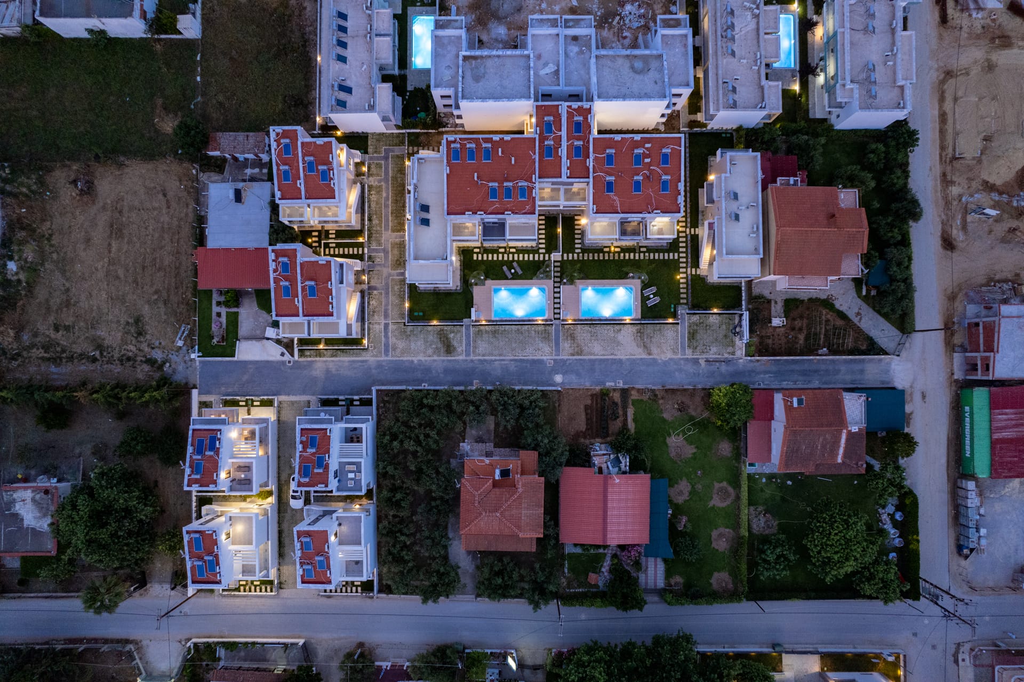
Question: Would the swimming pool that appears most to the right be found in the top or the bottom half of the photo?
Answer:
top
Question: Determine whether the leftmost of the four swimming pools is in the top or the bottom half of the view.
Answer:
top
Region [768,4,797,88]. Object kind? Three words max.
swimming pool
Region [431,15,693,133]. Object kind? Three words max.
building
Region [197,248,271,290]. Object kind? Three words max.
house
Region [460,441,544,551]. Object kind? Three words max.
house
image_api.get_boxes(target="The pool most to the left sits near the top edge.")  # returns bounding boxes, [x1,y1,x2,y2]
[407,6,441,91]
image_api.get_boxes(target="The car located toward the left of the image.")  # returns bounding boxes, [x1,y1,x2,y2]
[286,475,304,509]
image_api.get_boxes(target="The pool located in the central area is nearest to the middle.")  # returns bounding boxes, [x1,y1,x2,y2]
[474,280,552,320]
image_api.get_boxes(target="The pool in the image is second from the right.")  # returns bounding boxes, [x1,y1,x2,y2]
[562,280,641,320]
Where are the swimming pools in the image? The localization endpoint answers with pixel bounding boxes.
[407,6,441,91]
[474,280,552,320]
[768,4,797,88]
[562,280,641,320]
